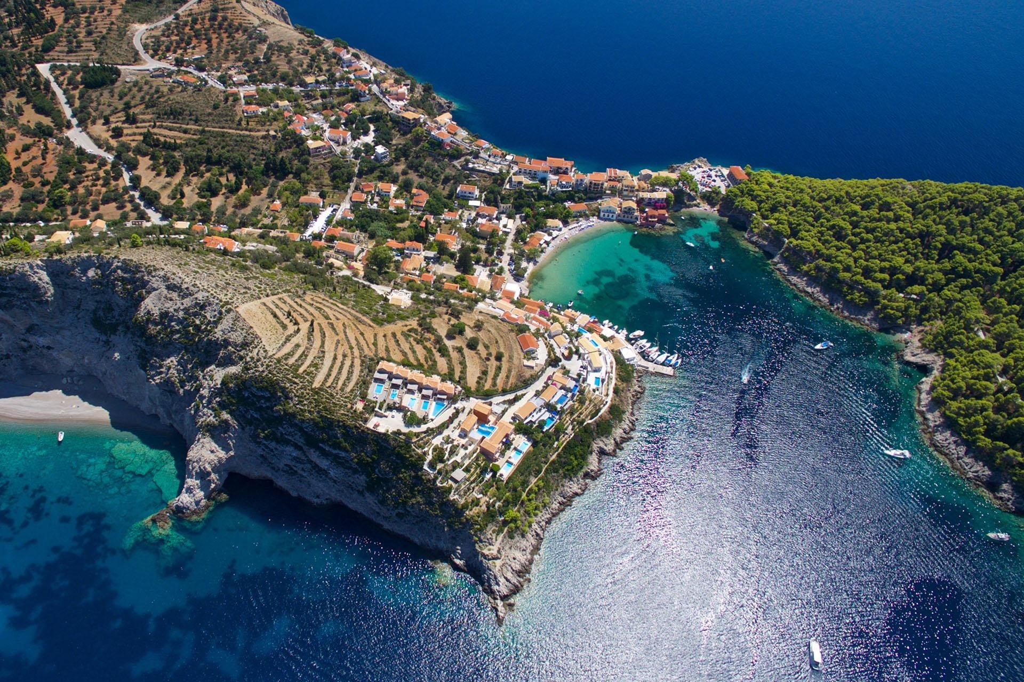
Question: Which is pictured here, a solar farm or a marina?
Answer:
marina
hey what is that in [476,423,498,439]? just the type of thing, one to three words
swimming pool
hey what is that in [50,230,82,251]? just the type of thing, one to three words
house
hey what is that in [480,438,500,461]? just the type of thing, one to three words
house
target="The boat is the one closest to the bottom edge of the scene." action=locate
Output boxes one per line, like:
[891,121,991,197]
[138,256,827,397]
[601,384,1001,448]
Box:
[810,636,823,670]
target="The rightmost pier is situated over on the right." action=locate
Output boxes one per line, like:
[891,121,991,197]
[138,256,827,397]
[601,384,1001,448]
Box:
[623,339,674,377]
